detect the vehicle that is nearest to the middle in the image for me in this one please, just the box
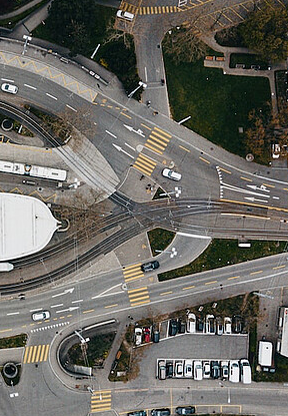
[162,168,182,181]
